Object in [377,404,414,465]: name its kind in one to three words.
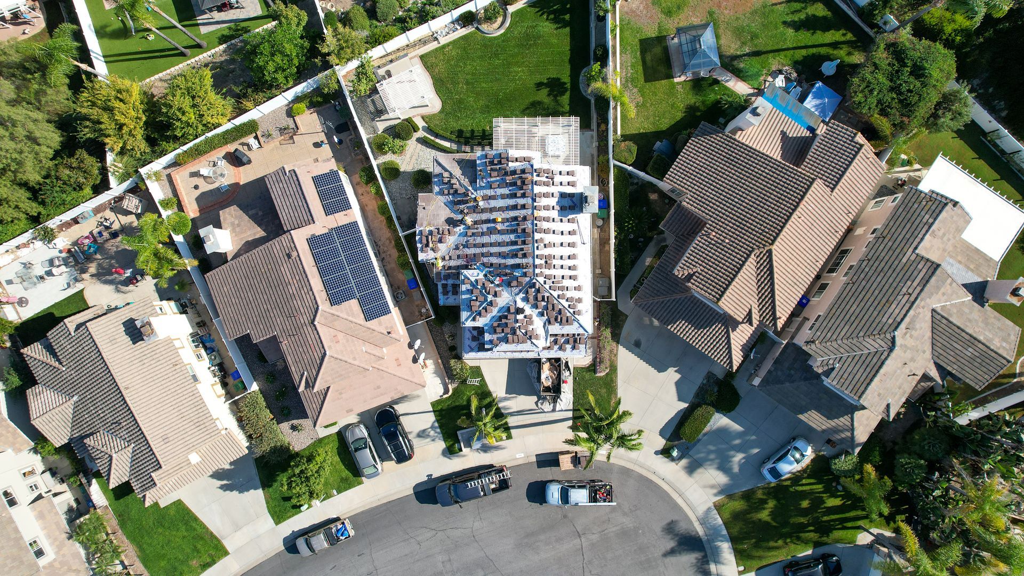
car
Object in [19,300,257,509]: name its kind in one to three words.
house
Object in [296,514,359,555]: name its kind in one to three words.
truck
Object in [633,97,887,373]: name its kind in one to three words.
house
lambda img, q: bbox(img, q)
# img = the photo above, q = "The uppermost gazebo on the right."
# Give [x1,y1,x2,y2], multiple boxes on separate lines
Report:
[670,21,721,81]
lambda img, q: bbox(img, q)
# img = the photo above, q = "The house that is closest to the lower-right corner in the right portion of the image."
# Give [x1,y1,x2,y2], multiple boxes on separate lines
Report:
[756,185,1024,456]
